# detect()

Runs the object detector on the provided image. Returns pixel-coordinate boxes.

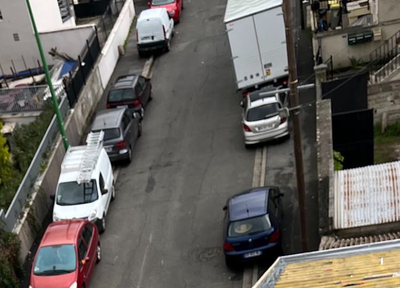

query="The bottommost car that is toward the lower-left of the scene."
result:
[21,220,97,288]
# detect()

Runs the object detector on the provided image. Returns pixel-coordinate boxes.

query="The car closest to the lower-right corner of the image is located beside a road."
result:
[223,186,286,261]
